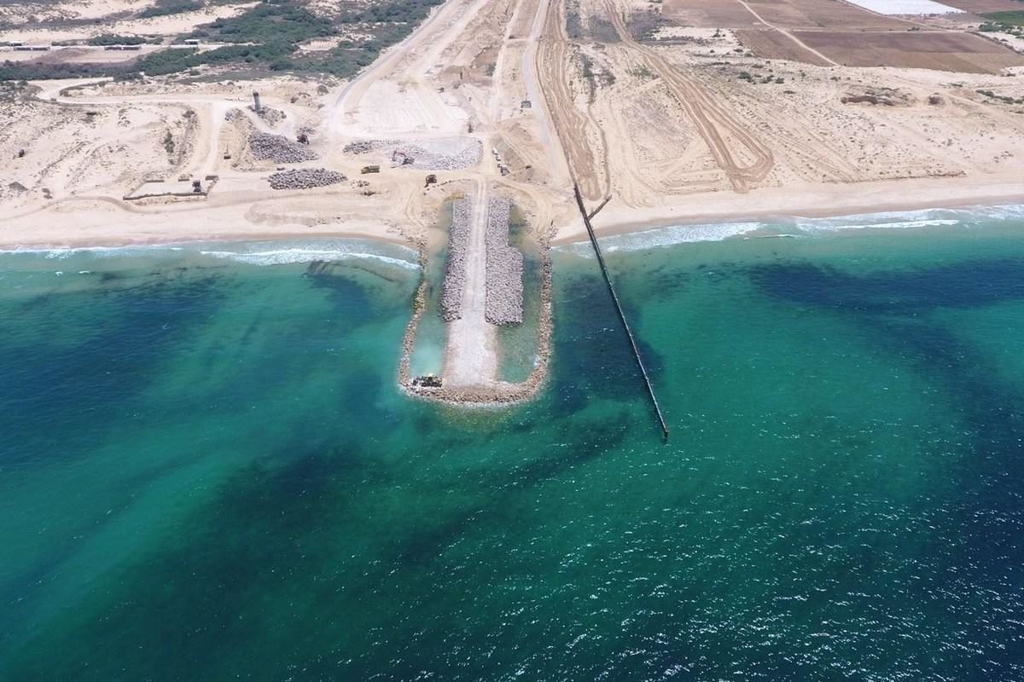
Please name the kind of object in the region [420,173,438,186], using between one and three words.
vehicle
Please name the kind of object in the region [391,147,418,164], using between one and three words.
work vehicle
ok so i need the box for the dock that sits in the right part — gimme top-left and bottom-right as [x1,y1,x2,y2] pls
[573,183,670,438]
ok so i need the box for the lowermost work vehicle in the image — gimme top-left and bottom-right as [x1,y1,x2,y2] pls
[414,375,442,388]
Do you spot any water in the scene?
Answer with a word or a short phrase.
Yes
